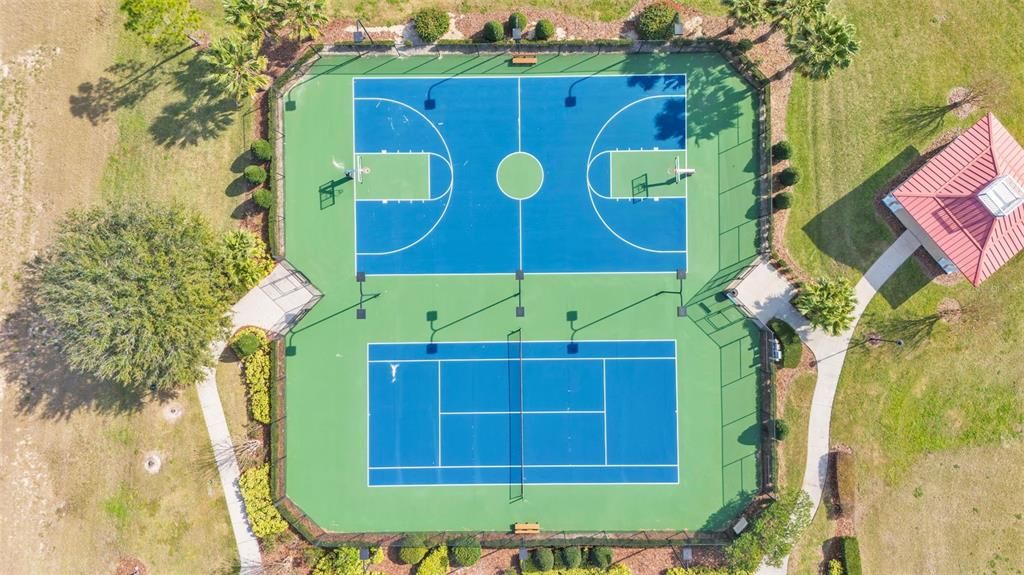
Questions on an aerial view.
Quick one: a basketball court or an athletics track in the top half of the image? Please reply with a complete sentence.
It is a basketball court that can be seen in the top half of the image.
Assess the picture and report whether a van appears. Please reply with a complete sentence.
No, the frame has no van in it.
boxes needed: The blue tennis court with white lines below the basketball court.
[367,340,680,487]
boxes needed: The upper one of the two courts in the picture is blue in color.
[353,73,688,276]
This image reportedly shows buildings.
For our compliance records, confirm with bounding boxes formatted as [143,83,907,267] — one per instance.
[880,109,1024,288]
